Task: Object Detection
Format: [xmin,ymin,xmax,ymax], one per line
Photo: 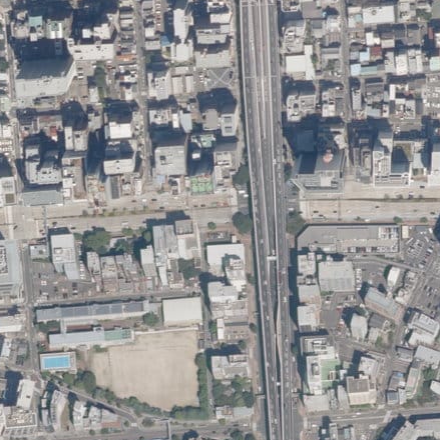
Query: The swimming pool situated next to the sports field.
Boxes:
[41,352,77,372]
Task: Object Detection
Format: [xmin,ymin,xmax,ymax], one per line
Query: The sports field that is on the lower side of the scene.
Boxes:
[89,329,199,409]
